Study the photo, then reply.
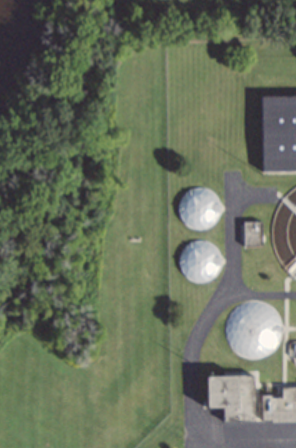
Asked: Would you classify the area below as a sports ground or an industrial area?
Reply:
industrial area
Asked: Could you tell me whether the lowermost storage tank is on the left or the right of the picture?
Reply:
right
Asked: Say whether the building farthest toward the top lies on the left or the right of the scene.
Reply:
right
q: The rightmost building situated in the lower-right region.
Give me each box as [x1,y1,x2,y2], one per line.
[263,388,296,423]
